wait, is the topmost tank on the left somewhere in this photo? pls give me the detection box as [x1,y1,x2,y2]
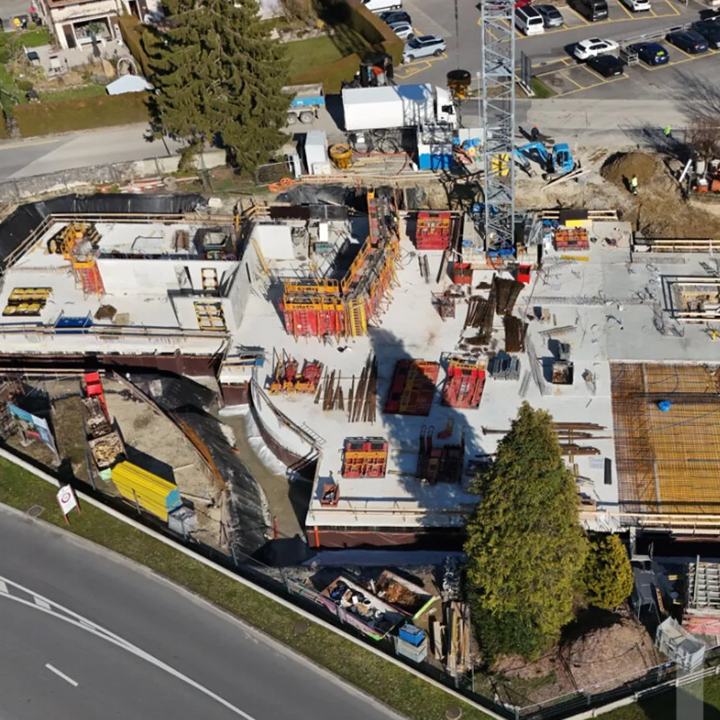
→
[171,504,202,535]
